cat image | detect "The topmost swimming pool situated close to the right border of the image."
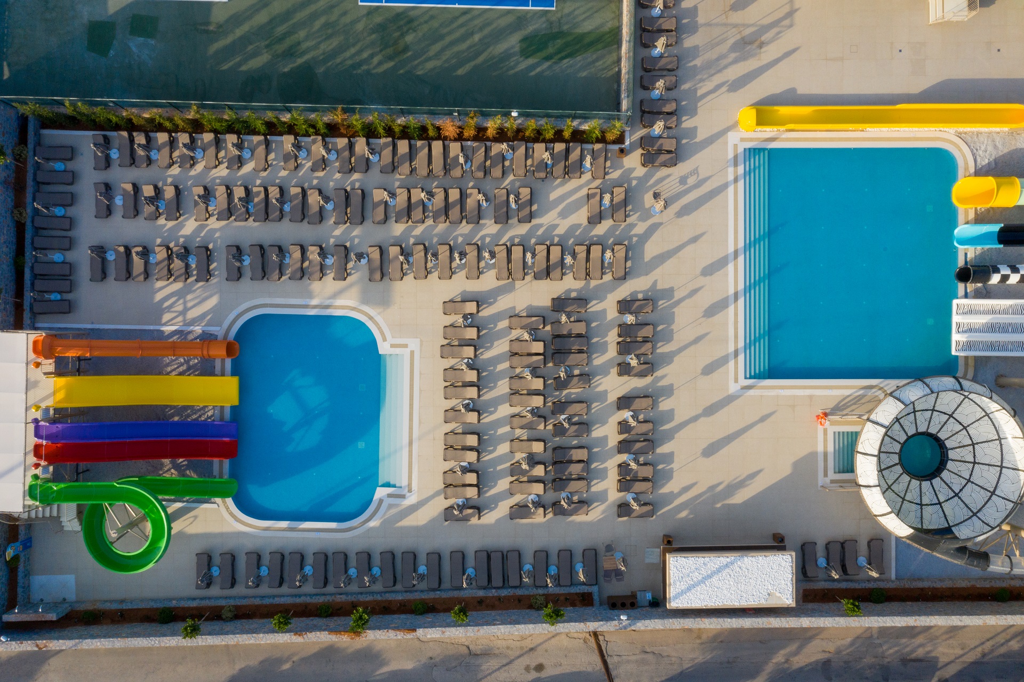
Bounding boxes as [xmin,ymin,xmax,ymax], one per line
[729,133,974,394]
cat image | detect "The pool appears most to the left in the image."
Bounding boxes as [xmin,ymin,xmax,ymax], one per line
[213,299,419,537]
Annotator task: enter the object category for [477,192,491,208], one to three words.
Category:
umbrella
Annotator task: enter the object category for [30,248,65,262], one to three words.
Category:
umbrella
